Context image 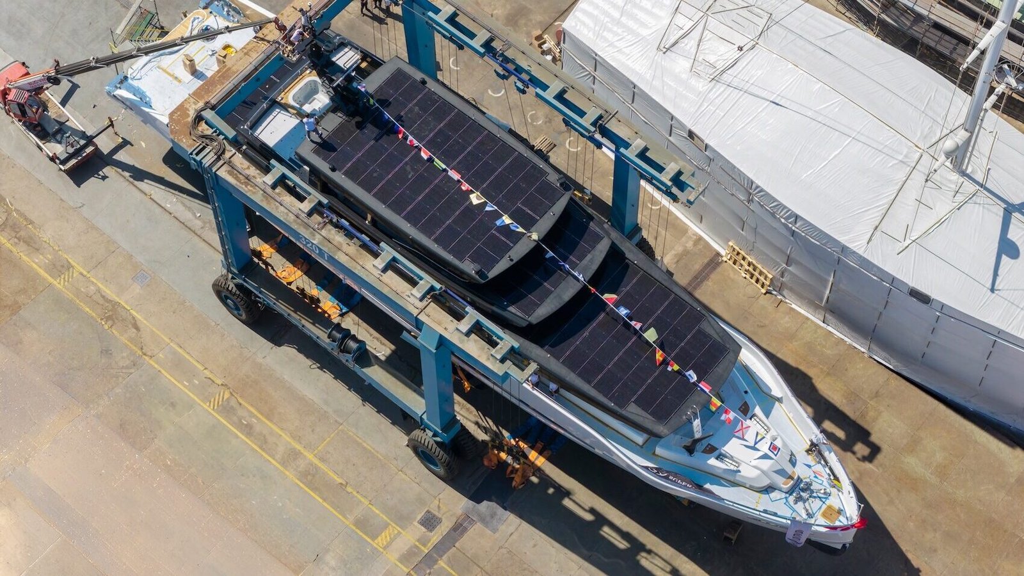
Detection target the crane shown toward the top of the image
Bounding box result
[0,12,298,182]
